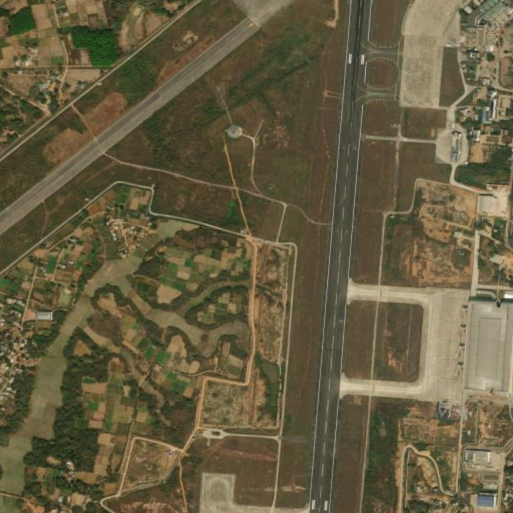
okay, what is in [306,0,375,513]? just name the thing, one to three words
runway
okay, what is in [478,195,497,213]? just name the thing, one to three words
building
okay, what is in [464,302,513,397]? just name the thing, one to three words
building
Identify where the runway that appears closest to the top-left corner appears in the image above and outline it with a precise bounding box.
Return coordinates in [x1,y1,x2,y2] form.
[0,18,258,234]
